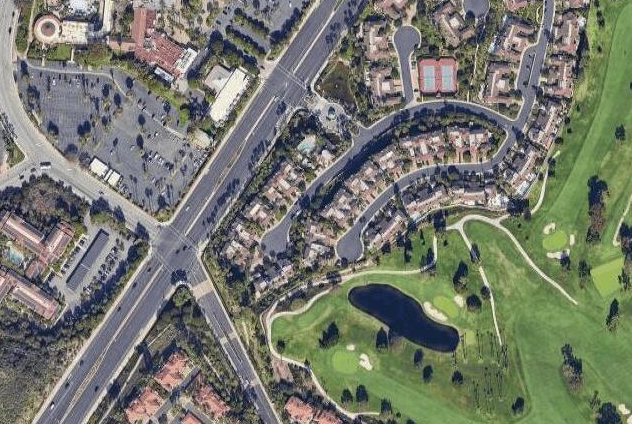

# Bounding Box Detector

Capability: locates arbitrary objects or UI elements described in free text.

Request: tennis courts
[418,58,438,93]
[438,58,457,93]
